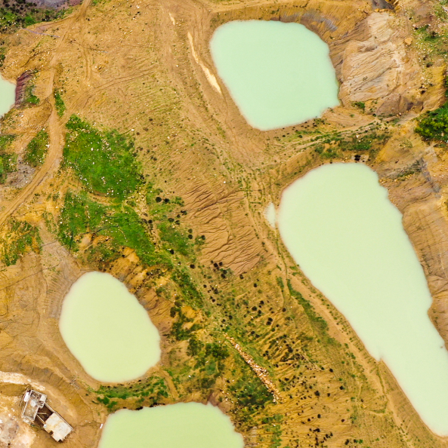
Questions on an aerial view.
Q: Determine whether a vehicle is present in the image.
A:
No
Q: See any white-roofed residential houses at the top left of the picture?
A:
No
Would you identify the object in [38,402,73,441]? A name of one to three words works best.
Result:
house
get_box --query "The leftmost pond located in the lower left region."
[57,271,160,382]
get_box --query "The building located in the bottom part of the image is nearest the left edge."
[20,389,47,422]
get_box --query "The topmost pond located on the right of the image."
[209,19,341,131]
